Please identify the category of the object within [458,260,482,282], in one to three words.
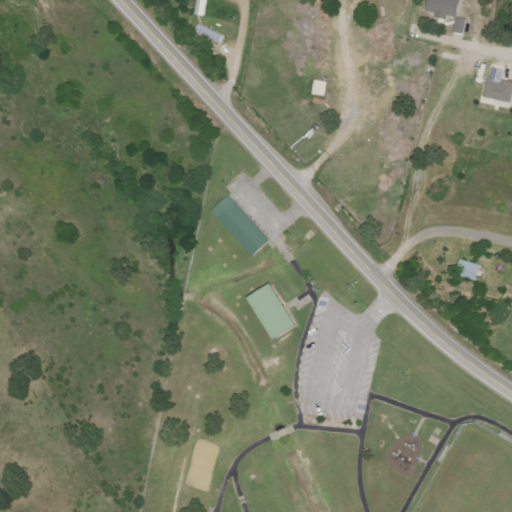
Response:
house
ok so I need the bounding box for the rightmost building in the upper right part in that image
[484,66,512,102]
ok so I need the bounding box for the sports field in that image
[414,424,512,512]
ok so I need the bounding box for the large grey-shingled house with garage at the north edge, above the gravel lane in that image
[426,0,466,34]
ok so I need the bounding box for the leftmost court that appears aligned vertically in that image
[188,440,218,491]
